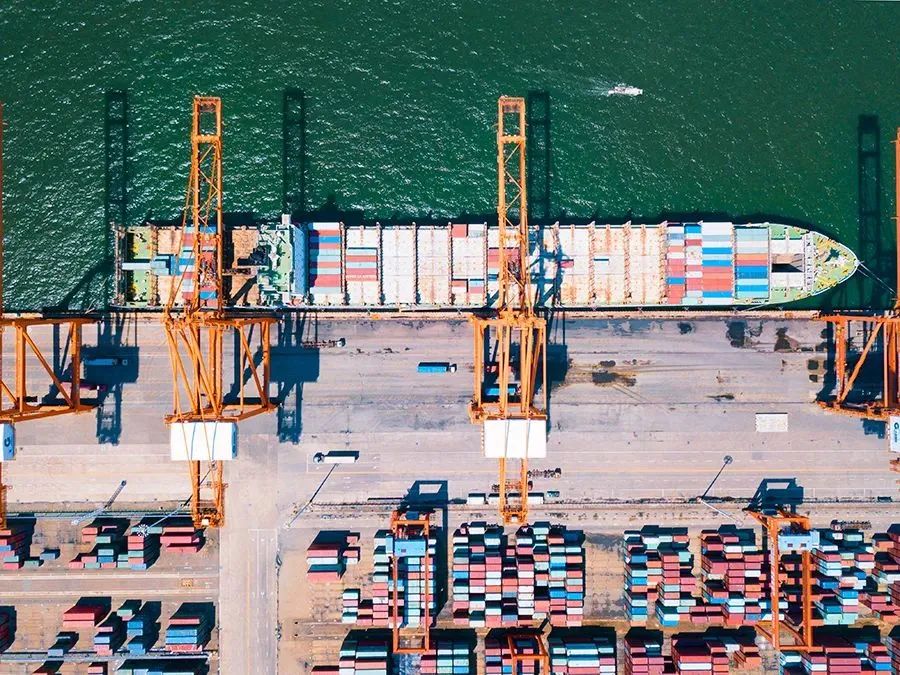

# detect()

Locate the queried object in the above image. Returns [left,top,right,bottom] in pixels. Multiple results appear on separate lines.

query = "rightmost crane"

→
[798,98,900,528]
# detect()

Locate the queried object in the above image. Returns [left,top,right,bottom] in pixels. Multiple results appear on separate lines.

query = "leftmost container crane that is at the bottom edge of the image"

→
[382,502,434,653]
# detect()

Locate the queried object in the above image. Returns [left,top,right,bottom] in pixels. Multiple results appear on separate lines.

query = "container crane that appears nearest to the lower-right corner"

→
[742,502,822,653]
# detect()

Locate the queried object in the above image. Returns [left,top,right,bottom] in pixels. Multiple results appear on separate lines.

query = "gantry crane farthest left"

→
[0,98,104,528]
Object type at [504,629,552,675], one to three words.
container crane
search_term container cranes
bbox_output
[159,97,286,528]
[466,97,542,528]
[382,502,434,653]
[798,98,900,528]
[504,629,552,675]
[0,98,104,528]
[742,502,822,653]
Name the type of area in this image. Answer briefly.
port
